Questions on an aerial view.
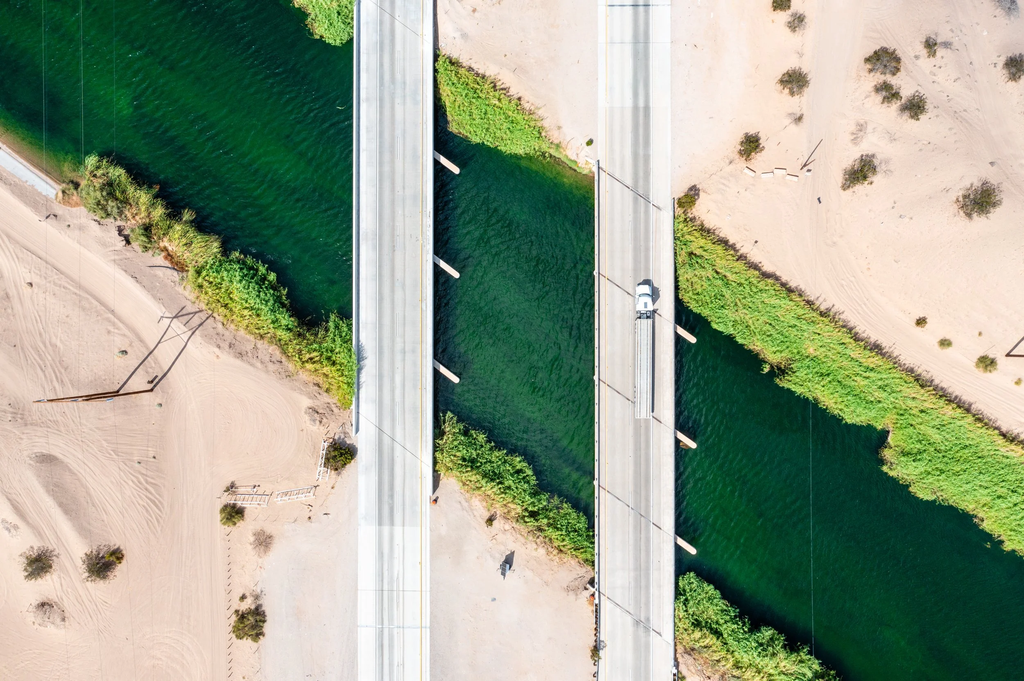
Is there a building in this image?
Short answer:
No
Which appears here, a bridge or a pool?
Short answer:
bridge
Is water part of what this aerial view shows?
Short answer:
Yes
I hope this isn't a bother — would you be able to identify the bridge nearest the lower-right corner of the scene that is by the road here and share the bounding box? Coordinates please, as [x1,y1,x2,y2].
[583,155,697,670]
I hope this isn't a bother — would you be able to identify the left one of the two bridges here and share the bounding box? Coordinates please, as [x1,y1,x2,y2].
[353,0,460,497]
